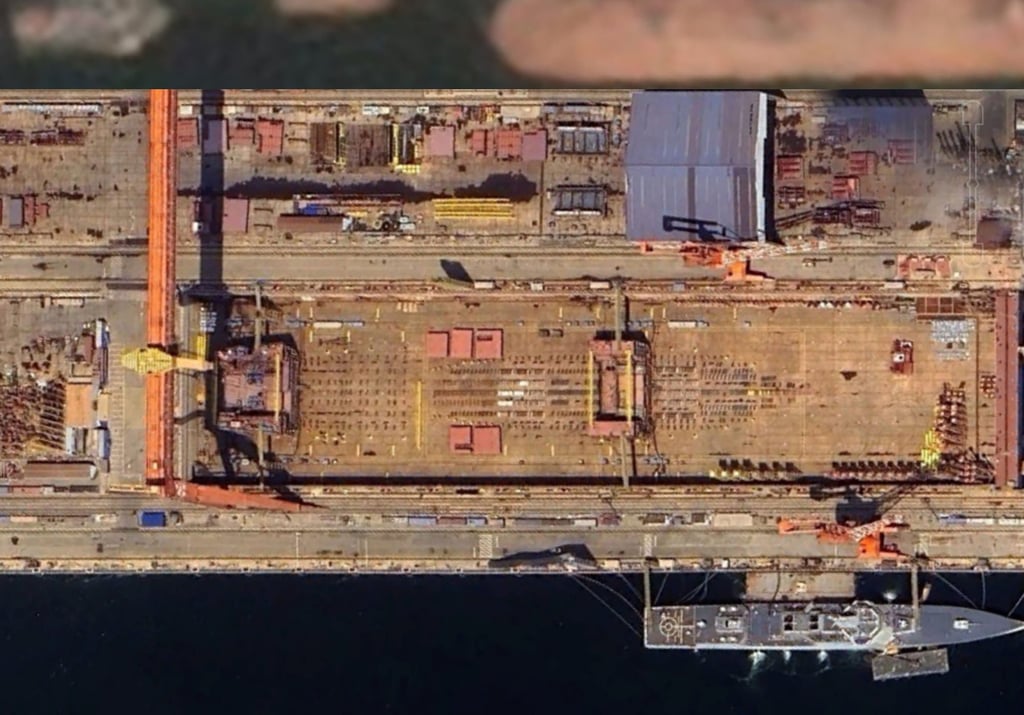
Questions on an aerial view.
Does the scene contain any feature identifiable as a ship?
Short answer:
Yes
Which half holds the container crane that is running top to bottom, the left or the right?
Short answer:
left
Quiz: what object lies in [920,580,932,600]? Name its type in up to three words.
boat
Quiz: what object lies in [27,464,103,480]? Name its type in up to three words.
shed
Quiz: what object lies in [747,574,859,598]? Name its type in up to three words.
ship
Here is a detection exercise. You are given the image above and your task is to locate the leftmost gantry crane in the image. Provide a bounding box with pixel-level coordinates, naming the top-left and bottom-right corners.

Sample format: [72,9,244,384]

[121,89,324,510]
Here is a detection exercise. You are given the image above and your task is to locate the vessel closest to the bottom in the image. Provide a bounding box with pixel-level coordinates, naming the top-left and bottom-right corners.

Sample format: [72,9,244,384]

[873,649,950,681]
